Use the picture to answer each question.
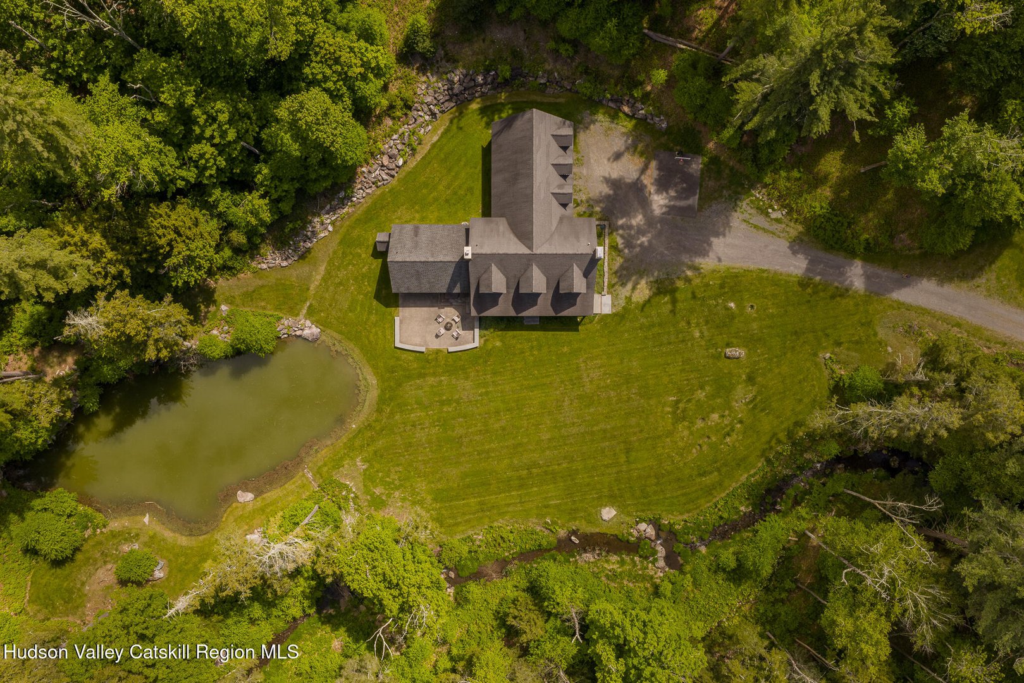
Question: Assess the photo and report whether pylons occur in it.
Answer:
No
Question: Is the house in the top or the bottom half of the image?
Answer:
top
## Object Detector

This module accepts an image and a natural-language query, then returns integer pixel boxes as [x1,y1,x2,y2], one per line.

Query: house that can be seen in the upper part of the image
[376,109,603,316]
